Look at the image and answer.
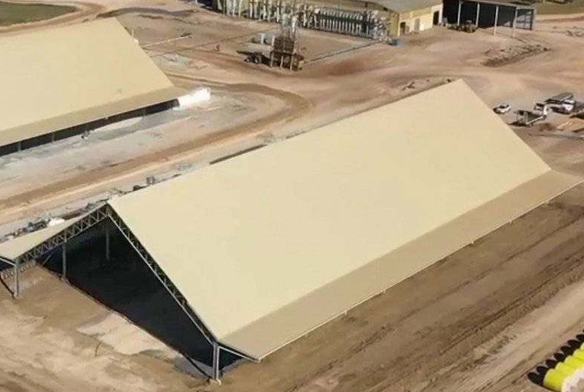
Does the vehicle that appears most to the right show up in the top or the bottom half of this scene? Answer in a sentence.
The vehicle that appears most to the right sits in the top half of the picture.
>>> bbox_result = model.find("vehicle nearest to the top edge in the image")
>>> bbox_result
[452,20,469,32]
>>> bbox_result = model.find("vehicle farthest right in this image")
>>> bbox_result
[539,91,584,111]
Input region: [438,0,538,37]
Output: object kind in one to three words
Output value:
shed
